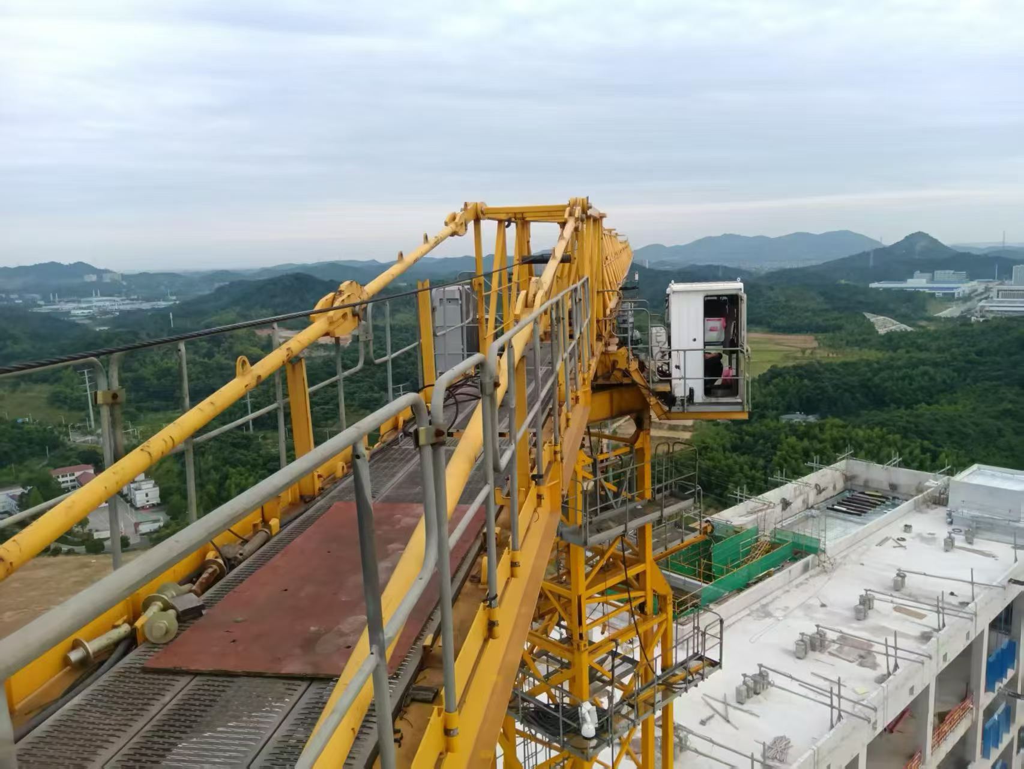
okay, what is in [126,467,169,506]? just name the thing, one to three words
building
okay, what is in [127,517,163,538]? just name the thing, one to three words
building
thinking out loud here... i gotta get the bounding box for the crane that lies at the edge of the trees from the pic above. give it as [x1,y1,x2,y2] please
[0,192,755,769]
